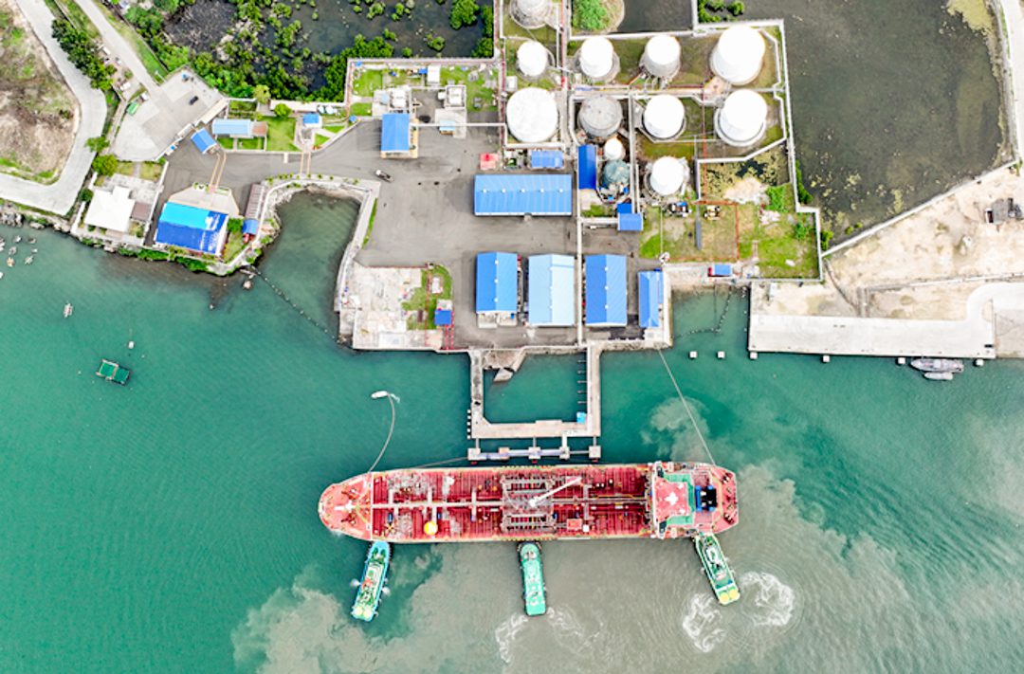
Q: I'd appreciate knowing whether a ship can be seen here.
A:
Yes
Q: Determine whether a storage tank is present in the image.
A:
Yes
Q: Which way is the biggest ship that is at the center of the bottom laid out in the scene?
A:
from left to right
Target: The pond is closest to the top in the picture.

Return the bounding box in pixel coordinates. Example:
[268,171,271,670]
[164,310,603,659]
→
[609,0,691,34]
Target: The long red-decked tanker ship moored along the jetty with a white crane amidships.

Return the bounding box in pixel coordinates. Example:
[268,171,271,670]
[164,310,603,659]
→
[318,461,738,543]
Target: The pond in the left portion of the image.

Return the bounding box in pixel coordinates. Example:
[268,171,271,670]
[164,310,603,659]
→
[164,0,497,100]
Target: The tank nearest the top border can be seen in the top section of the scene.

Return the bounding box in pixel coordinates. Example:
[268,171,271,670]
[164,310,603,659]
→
[508,0,558,34]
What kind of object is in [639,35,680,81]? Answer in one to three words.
storage tank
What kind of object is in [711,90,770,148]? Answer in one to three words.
storage tank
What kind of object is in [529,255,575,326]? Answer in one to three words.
shed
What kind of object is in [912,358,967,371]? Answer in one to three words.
boat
